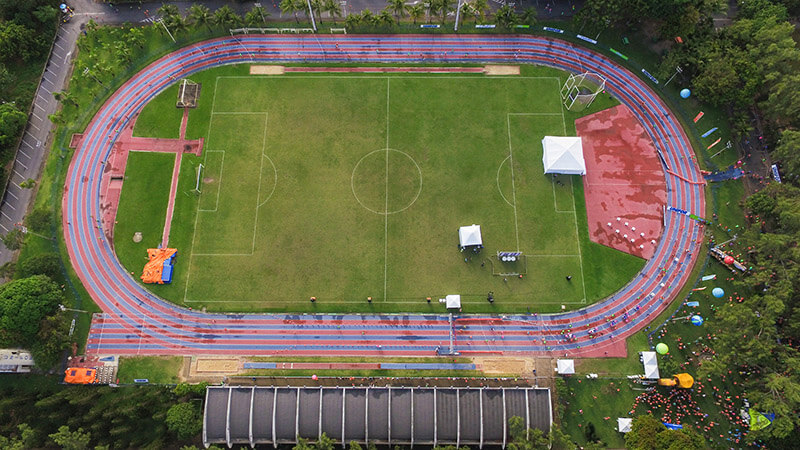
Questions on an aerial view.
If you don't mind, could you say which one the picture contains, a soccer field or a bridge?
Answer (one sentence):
Visible in the photo is a soccer field.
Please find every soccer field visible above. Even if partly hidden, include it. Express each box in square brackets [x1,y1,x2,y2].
[177,73,593,308]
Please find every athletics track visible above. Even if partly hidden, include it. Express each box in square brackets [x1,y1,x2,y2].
[61,34,706,357]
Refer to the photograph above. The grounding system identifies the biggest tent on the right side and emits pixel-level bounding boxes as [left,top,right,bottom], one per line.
[541,136,585,178]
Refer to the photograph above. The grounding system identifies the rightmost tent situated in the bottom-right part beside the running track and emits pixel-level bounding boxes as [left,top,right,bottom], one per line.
[638,352,659,378]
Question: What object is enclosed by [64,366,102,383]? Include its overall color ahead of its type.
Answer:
orange tent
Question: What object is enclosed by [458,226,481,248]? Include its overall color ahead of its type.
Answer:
white tent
